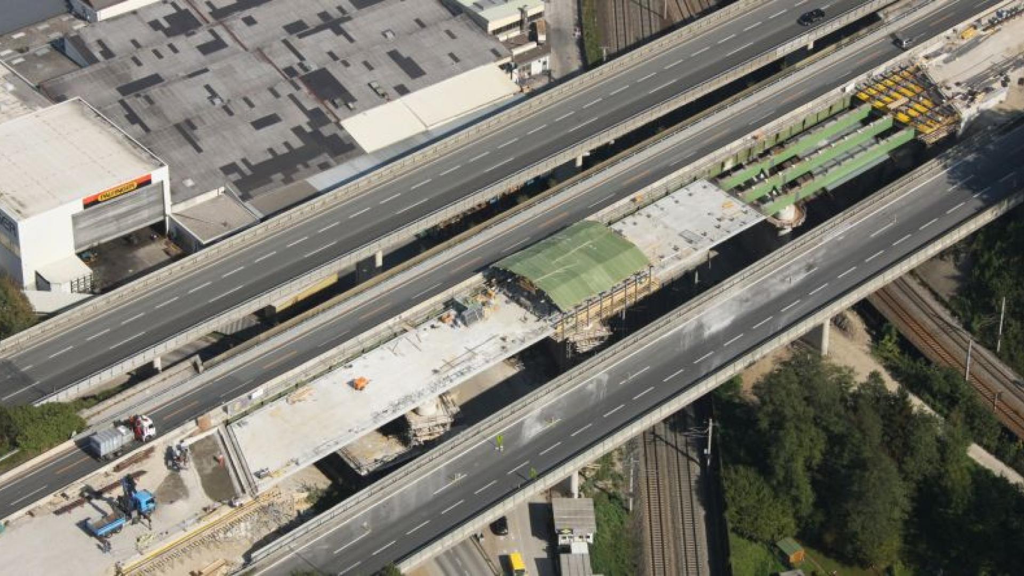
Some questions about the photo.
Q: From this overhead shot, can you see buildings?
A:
Yes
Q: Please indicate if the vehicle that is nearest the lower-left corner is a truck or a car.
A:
truck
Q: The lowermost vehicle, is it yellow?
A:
Yes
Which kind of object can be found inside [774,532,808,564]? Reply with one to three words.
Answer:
shed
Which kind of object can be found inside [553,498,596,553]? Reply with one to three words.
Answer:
house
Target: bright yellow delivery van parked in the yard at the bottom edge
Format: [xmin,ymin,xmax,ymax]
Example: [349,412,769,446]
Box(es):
[508,550,530,576]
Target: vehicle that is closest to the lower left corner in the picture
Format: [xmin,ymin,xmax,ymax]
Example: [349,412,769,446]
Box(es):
[87,472,156,537]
